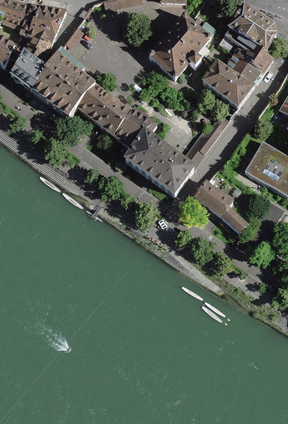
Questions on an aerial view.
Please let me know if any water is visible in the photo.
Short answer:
Yes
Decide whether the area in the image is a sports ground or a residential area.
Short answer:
residential area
